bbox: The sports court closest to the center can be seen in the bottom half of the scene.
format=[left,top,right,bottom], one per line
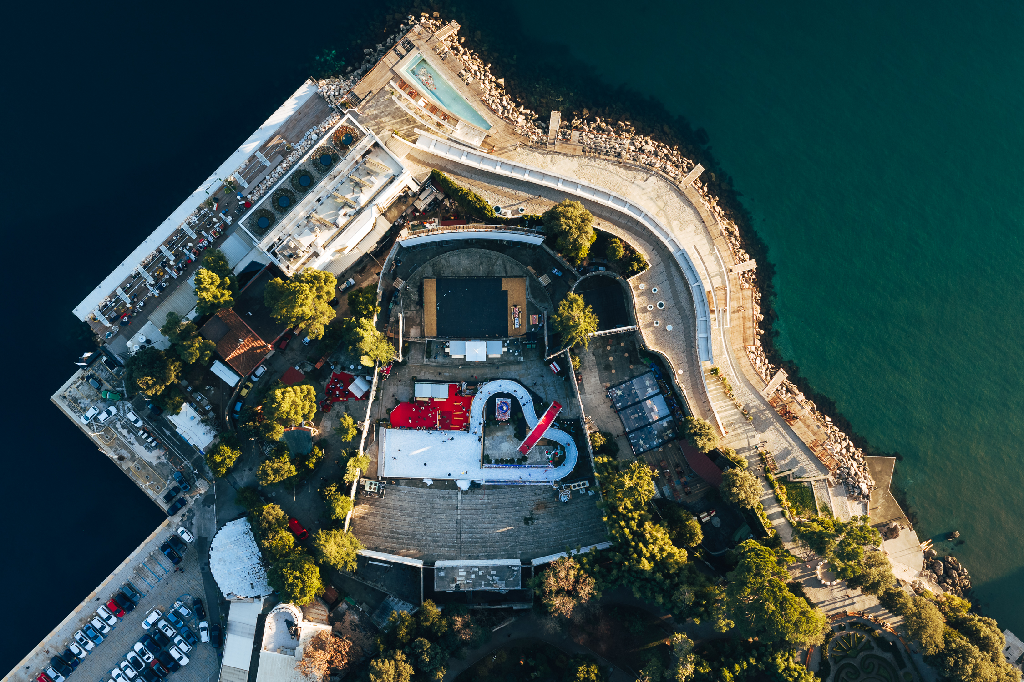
[378,379,590,485]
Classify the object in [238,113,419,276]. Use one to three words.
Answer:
building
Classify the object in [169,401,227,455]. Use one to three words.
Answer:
building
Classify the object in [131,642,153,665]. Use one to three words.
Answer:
car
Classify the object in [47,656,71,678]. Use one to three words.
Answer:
car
